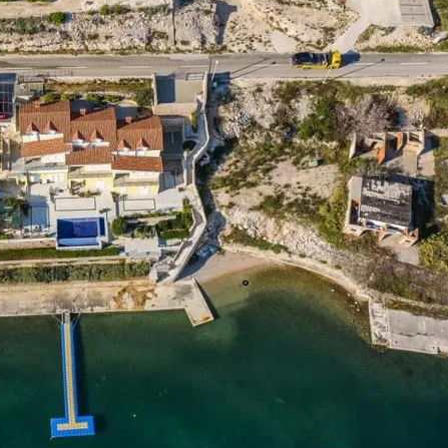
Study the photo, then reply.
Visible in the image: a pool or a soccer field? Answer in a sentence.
I can see a pool in this picture.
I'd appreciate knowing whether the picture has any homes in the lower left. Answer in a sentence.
No, there is no home in the lower left.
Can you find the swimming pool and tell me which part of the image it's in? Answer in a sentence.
The swimming pool sits in the left section of the image.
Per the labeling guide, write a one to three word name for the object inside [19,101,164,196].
house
